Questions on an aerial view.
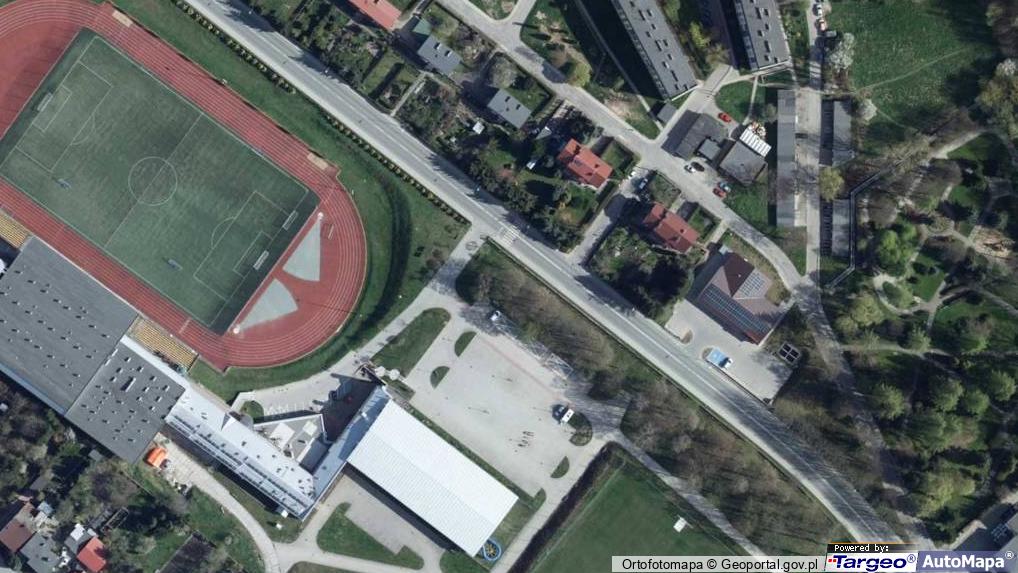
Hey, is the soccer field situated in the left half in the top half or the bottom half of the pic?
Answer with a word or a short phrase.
top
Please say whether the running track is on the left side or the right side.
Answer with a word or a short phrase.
left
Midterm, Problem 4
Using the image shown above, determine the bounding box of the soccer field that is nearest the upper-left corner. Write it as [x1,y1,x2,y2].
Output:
[0,25,322,338]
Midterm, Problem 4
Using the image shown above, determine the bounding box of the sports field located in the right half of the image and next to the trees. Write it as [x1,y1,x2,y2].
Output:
[532,459,759,573]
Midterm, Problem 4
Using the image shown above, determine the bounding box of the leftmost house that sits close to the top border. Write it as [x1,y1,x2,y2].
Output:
[347,0,404,31]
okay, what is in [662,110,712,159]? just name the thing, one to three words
building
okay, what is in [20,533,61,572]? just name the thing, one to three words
house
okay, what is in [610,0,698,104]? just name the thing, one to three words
building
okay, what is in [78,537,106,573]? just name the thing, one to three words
house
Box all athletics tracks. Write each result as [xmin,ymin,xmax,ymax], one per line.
[0,0,367,373]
